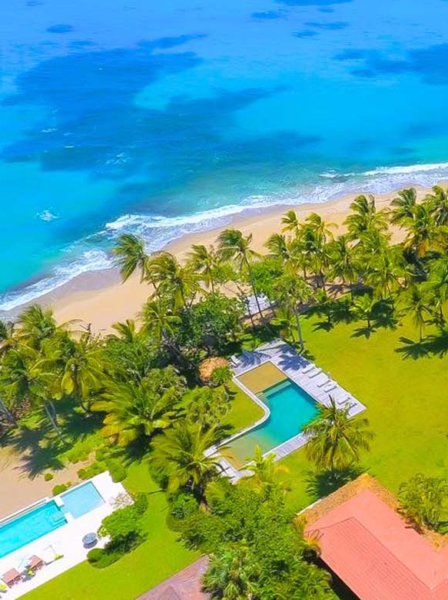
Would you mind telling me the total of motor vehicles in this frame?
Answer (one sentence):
Not a single motor vehicle can be seen.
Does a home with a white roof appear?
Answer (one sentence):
No, there isn't any home with a white roof down there.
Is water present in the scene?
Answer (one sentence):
Yes, the picture does contain water.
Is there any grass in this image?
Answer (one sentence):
Yes, some grass is visible.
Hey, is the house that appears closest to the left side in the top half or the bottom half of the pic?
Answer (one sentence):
You can find the house that appears closest to the left side in the bottom half.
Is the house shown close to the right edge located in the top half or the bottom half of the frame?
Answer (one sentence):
It is in the bottom half that the house shown close to the right edge appears.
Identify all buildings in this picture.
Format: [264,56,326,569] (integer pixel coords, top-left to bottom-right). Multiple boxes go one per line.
[289,484,448,600]
[140,555,247,600]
